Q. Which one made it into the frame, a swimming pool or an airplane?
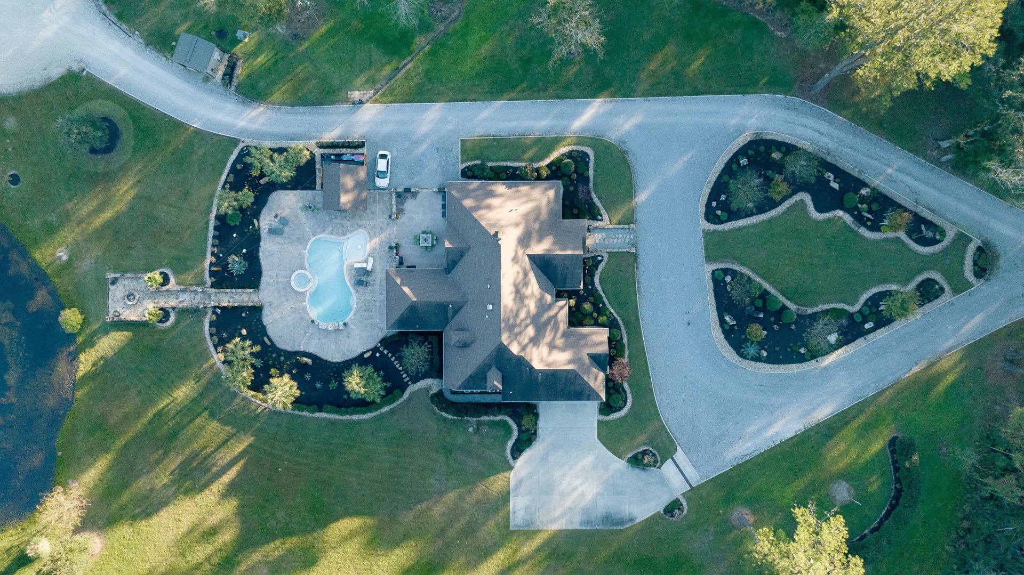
swimming pool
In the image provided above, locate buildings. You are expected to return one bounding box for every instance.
[385,180,611,402]
[174,34,233,82]
[322,161,368,210]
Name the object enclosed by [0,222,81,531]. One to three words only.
pond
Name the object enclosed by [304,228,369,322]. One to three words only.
swimming pool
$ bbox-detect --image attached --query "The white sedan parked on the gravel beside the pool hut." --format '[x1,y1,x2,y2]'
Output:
[373,151,392,188]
